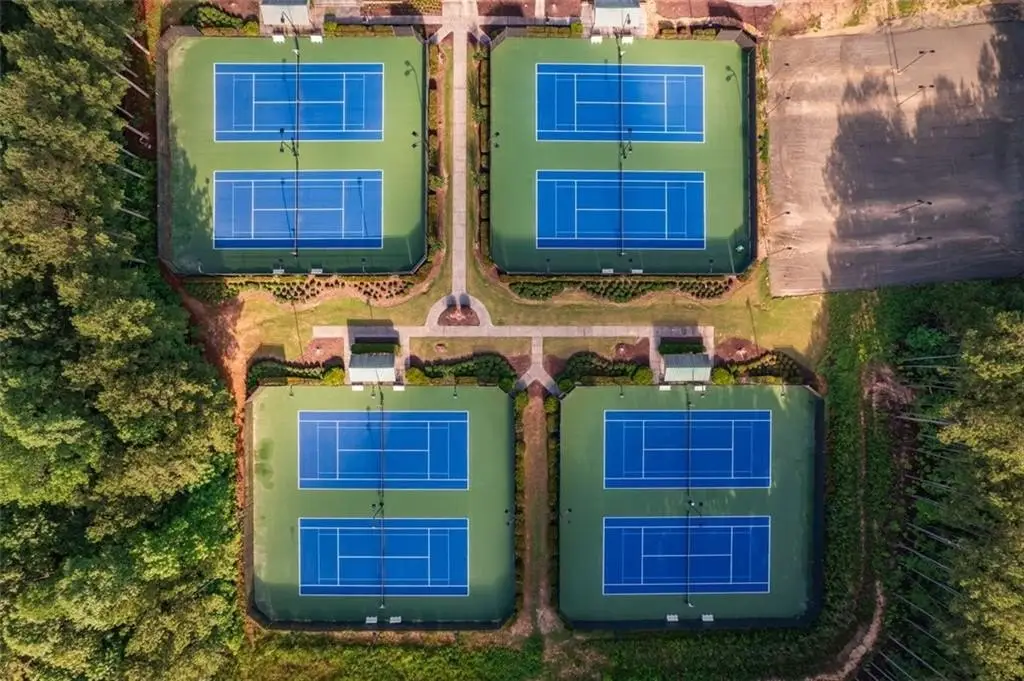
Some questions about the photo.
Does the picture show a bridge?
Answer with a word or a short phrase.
No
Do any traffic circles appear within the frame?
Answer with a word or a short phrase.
No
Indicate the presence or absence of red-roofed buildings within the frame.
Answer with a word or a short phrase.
No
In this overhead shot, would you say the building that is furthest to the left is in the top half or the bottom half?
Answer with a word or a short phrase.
top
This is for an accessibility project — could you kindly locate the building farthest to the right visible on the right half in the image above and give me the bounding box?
[663,353,712,382]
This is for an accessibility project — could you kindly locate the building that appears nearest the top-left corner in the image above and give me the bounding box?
[260,0,311,31]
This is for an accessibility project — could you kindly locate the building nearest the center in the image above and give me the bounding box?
[348,353,396,382]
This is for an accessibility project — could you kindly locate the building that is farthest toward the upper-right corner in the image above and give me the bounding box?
[593,0,640,33]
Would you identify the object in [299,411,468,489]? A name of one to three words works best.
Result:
tennis court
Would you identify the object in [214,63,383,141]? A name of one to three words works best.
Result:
tennis court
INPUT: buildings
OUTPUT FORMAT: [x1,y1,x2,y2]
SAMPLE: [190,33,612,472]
[593,0,640,33]
[348,353,396,382]
[260,0,311,31]
[663,353,712,382]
